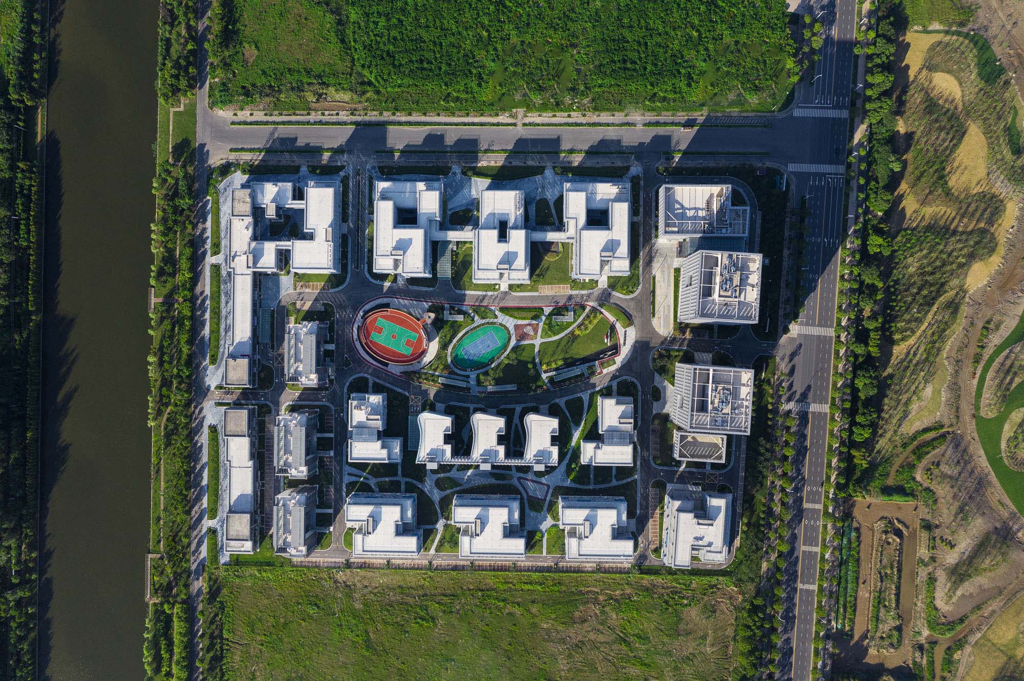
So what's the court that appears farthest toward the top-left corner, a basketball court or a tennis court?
basketball court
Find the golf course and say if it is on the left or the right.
right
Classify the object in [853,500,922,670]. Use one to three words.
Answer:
pond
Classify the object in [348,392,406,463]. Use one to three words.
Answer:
building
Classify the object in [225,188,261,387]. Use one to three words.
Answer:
building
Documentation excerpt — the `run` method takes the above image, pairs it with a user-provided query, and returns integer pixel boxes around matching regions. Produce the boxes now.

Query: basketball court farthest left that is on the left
[357,309,427,365]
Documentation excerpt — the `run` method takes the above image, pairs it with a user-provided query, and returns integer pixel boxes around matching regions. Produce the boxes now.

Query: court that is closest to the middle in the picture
[453,324,508,369]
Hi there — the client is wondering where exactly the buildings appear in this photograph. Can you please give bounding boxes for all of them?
[273,488,326,560]
[348,392,406,463]
[658,184,750,240]
[284,321,338,388]
[521,410,558,471]
[468,409,505,470]
[677,250,762,326]
[561,498,635,563]
[580,394,634,467]
[453,496,528,561]
[472,189,531,285]
[415,409,454,469]
[225,188,261,387]
[274,411,327,480]
[659,486,727,569]
[224,407,262,554]
[345,494,423,558]
[373,180,445,278]
[670,363,754,435]
[563,182,631,280]
[291,180,344,275]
